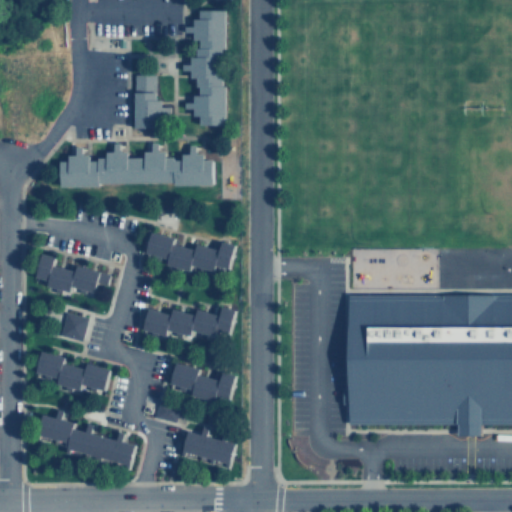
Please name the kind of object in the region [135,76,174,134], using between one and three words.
building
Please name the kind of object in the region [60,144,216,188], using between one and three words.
building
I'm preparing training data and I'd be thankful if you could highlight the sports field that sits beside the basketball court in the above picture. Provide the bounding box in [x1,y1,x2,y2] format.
[282,0,512,249]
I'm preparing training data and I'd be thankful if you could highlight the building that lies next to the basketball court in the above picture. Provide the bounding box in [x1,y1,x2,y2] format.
[347,293,512,437]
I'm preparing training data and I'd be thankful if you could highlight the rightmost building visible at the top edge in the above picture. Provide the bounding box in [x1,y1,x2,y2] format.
[184,11,228,126]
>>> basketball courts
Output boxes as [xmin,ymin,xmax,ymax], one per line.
[438,250,512,288]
